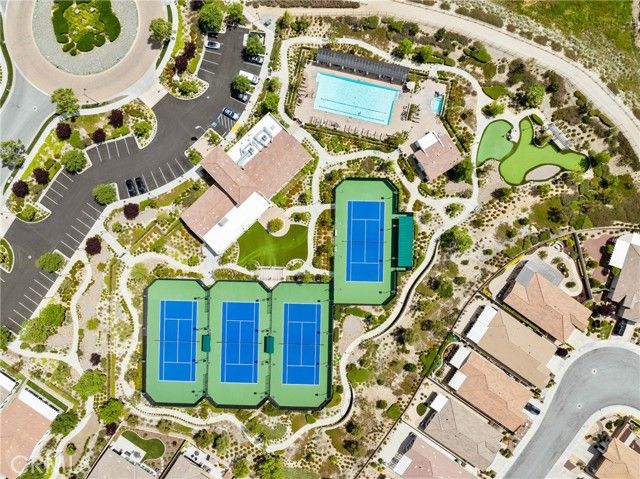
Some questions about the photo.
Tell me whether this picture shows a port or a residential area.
residential area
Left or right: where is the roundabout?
left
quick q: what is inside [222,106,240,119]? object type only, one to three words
vehicle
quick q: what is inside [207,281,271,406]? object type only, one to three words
tennis court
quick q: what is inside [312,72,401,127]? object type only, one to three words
swimming pool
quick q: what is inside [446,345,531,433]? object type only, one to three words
house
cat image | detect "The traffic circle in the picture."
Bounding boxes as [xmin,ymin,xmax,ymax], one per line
[2,0,168,103]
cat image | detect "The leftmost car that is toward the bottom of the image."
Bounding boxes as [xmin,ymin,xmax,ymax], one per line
[526,402,543,415]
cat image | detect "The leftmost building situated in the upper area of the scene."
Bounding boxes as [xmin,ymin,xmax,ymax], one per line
[181,111,313,254]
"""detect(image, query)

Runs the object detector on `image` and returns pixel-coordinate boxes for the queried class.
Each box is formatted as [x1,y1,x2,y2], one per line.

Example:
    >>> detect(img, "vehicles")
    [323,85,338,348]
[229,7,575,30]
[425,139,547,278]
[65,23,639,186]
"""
[614,320,626,336]
[526,402,543,415]
[234,91,251,103]
[247,54,264,65]
[135,176,147,194]
[204,40,221,50]
[238,68,259,83]
[222,106,240,119]
[126,179,136,196]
